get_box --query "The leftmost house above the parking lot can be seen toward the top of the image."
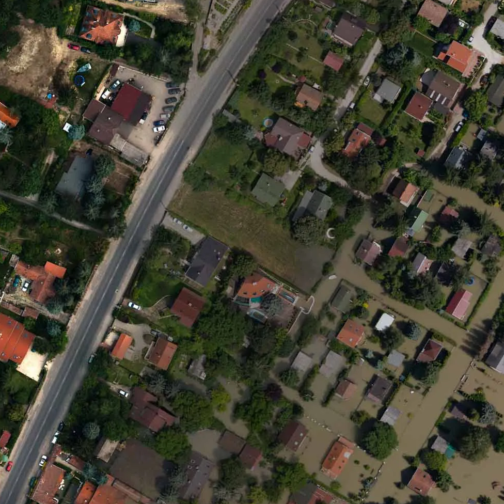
[78,4,130,47]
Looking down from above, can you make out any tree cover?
Yes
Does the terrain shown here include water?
Yes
